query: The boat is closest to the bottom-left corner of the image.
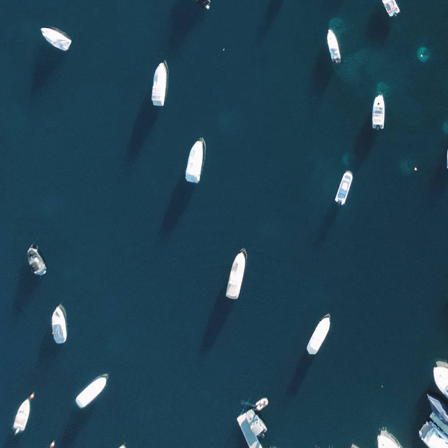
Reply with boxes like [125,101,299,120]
[12,400,32,435]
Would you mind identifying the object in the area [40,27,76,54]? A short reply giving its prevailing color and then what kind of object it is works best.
white boat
